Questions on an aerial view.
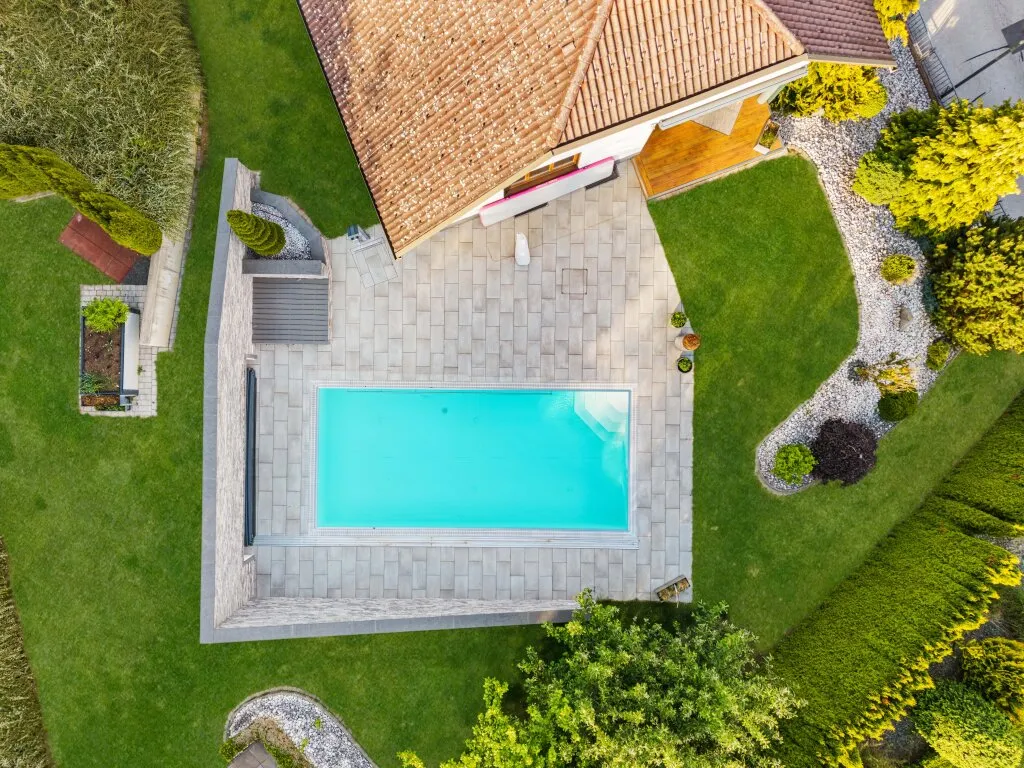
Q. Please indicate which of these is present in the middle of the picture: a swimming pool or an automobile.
swimming pool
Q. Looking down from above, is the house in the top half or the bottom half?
top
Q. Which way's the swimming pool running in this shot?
from side to side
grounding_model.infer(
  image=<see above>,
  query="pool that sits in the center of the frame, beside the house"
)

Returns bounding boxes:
[307,380,638,536]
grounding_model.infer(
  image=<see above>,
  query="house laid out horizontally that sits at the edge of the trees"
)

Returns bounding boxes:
[296,0,897,260]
